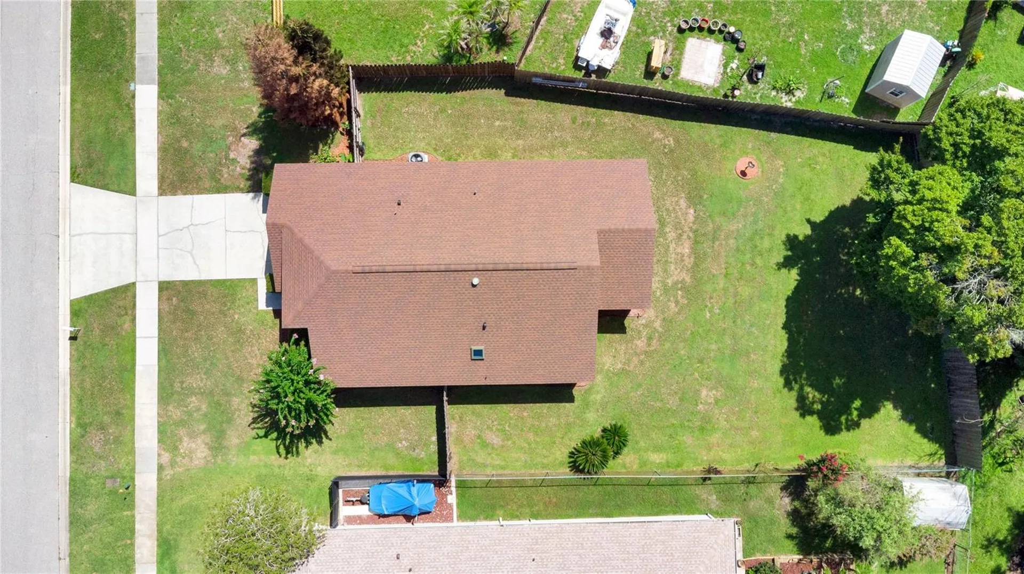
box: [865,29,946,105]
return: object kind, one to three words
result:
shed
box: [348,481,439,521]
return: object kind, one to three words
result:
boat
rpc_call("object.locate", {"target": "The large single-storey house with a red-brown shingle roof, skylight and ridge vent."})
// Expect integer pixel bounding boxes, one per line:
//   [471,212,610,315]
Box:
[265,159,657,388]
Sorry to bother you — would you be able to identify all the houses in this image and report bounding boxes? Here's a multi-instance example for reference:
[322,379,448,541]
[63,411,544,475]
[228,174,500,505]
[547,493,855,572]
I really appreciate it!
[265,159,657,388]
[292,515,744,574]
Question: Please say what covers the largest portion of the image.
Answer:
grass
